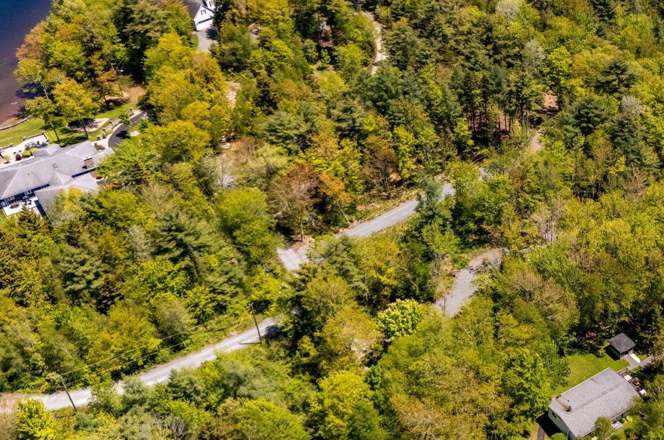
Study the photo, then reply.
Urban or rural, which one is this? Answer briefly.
rural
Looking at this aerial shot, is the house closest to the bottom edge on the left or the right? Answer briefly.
right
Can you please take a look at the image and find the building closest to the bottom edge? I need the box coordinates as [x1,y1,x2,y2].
[546,370,642,440]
